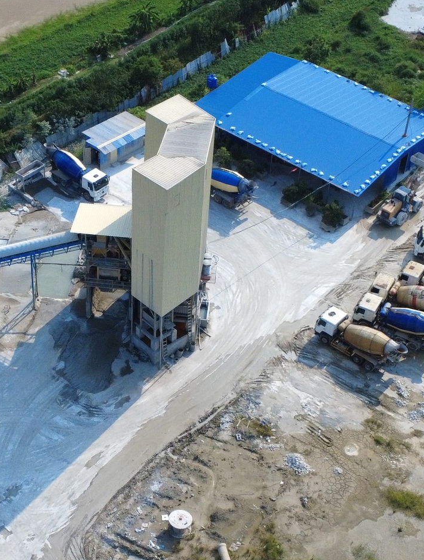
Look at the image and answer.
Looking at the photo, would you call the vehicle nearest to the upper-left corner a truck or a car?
truck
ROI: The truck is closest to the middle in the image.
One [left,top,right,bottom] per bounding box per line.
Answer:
[210,171,260,208]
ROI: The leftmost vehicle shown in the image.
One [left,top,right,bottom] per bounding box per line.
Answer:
[41,143,114,203]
